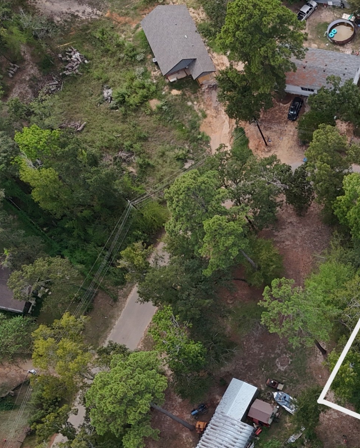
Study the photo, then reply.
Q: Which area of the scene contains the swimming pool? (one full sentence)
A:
Look in the top right portion of the view to spot the swimming pool.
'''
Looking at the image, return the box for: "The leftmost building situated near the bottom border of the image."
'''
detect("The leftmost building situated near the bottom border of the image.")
[194,378,261,448]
